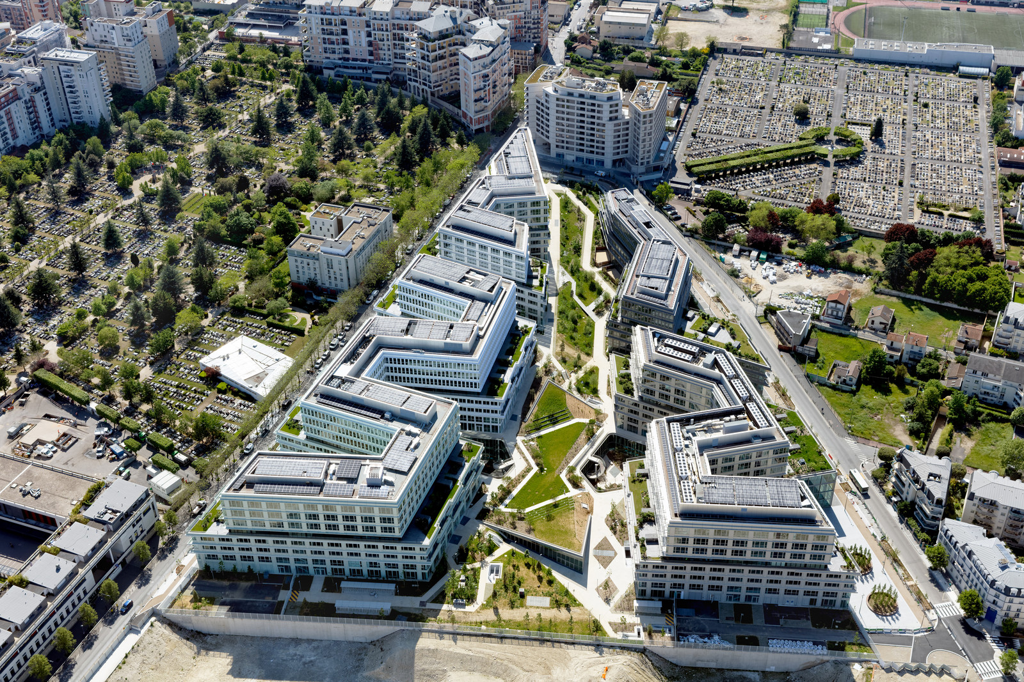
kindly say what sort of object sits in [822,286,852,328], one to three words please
house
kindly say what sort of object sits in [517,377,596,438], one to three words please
building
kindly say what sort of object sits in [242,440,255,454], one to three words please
vehicle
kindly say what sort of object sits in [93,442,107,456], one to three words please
vehicle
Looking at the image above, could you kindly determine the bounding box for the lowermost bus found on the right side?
[850,469,872,501]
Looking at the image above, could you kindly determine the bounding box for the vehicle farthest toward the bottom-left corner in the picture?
[119,598,134,613]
